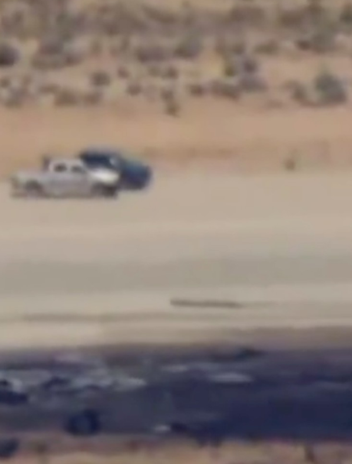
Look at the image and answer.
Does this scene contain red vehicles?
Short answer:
No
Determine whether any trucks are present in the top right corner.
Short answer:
No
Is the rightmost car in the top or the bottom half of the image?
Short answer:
top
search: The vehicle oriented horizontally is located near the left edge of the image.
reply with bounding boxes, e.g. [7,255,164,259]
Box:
[8,157,121,197]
